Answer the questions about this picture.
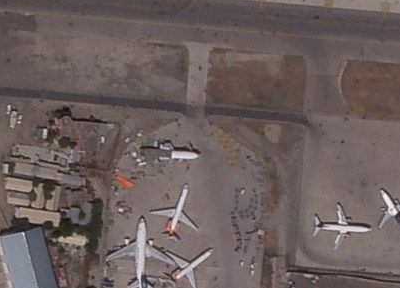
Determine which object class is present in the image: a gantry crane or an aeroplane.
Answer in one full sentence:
The image shows an aeroplane.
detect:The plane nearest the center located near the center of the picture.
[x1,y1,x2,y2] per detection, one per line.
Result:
[140,143,200,159]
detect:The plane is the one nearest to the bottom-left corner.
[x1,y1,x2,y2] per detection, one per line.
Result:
[107,216,176,288]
